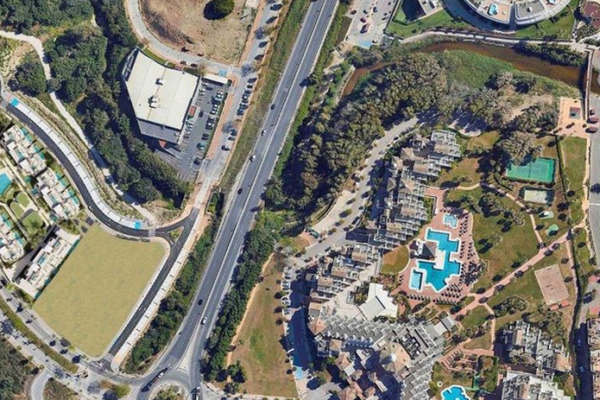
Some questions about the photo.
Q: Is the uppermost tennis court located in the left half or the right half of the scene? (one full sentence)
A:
The uppermost tennis court sits on the right side.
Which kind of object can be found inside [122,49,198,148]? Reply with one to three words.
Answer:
building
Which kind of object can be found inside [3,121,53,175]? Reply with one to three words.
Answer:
building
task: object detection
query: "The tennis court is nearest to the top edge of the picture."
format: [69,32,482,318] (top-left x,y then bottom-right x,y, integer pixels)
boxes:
[506,156,556,182]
